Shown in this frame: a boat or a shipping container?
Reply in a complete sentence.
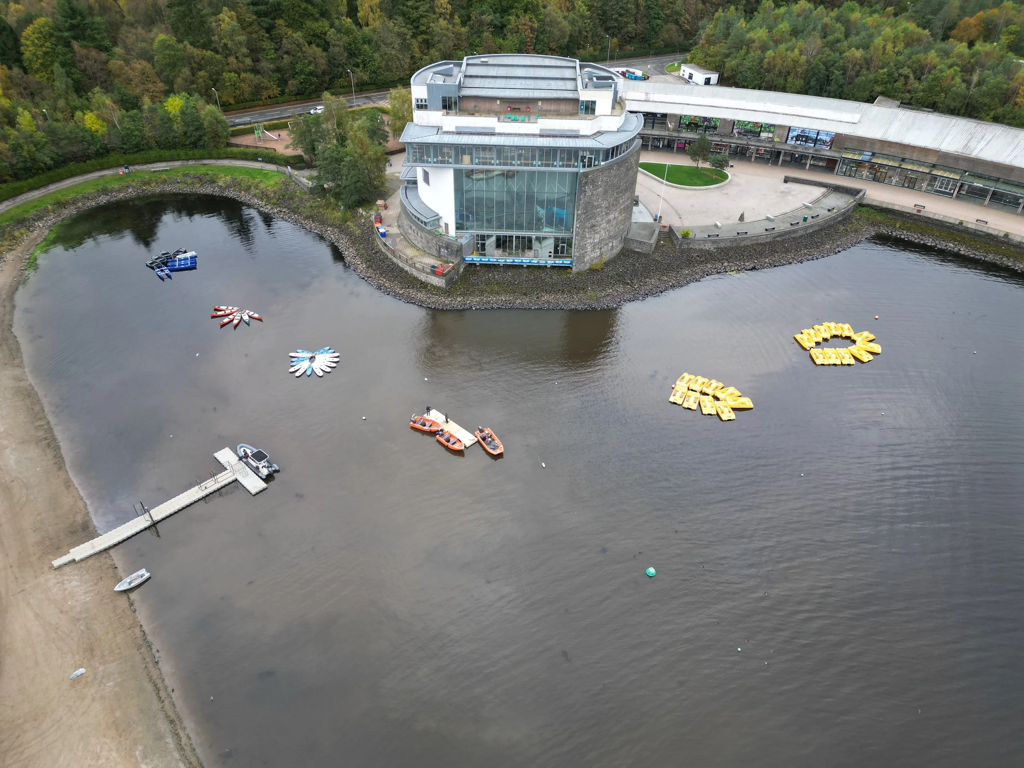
Visible in the photo is a boat.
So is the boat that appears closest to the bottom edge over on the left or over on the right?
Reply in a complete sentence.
The boat that appears closest to the bottom edge appears in the left half of the scene.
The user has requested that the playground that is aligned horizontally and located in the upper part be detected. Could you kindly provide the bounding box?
[231,115,408,178]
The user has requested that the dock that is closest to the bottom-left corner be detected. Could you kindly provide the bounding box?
[54,448,265,572]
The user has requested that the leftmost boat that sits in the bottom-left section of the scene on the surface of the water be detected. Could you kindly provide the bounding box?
[114,569,149,592]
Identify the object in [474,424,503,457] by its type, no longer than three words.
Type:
boat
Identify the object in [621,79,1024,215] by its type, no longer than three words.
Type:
building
